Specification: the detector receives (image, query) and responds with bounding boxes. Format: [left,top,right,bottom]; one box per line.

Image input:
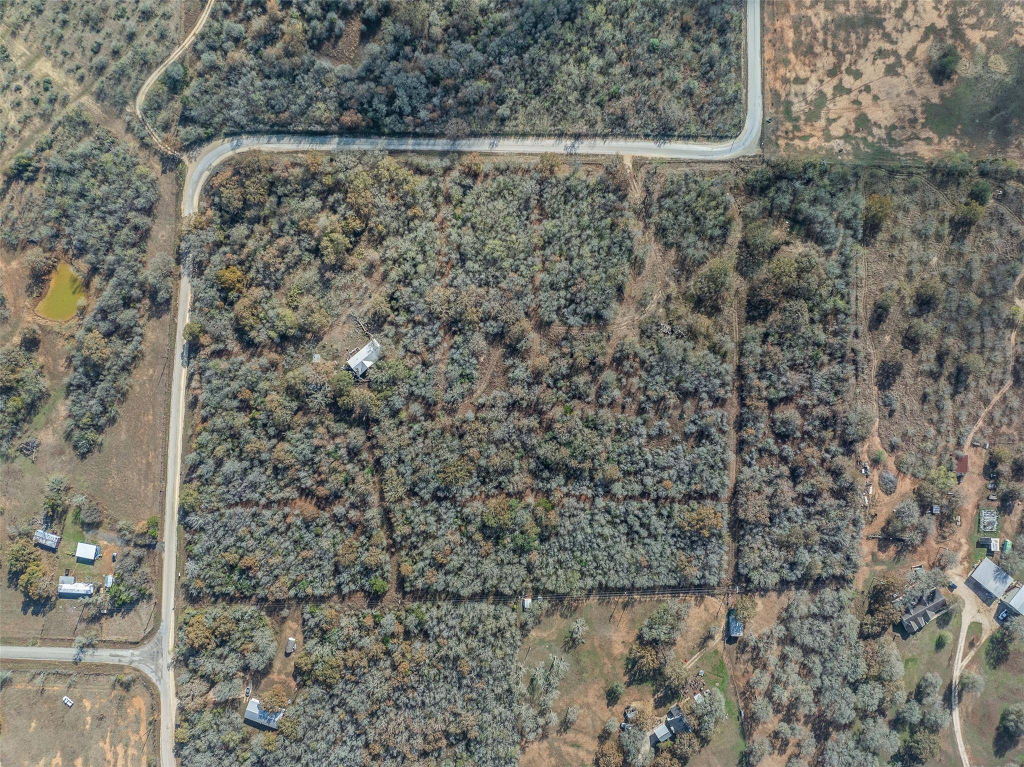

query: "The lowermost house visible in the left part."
[244,697,285,730]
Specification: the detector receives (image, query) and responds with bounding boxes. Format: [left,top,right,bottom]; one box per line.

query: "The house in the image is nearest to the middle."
[348,339,384,374]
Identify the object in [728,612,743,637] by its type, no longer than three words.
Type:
shed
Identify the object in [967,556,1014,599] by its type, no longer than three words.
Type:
barn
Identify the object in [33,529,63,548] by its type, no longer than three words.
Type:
barn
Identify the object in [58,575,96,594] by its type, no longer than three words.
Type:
house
